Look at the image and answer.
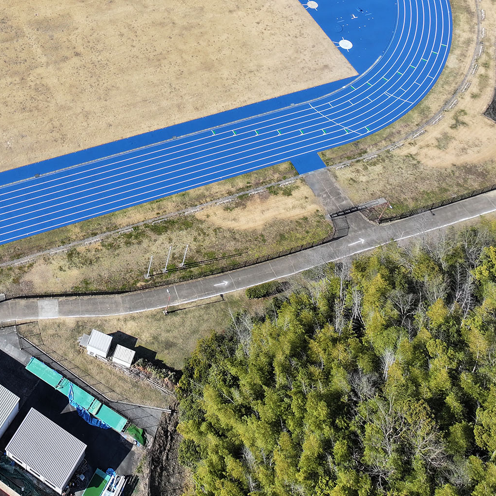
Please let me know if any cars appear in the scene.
No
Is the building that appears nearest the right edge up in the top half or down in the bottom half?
bottom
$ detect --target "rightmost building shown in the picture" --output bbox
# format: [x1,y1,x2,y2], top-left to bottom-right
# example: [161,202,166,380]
[111,342,136,370]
